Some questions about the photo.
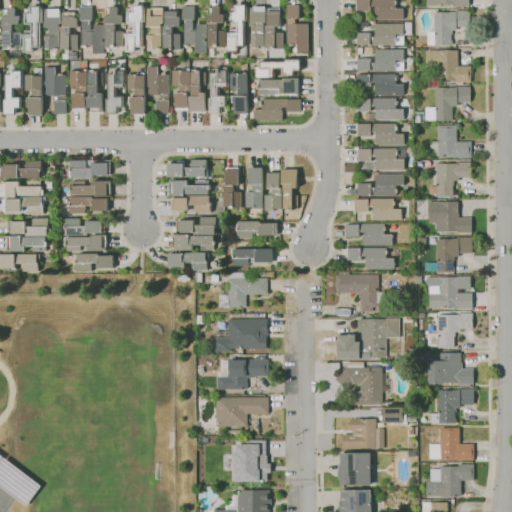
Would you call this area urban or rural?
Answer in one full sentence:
It looks urban.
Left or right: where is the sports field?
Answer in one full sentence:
You can find the sports field on the left side of the picture.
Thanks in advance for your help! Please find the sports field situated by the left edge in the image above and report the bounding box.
[0,294,174,512]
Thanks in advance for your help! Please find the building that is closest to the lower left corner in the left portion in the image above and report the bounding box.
[0,455,40,506]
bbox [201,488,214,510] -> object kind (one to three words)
swimming pool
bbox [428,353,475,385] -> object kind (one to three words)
house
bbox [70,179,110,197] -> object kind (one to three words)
house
